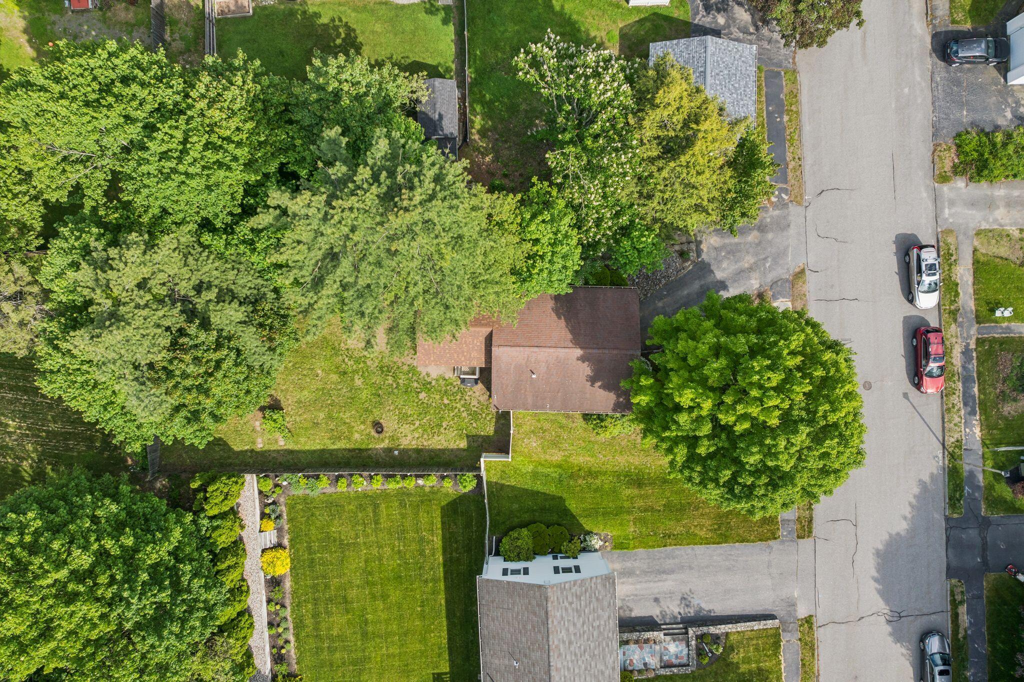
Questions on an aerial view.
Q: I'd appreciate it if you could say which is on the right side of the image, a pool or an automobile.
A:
automobile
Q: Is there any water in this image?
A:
No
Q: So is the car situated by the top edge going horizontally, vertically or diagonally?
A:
horizontally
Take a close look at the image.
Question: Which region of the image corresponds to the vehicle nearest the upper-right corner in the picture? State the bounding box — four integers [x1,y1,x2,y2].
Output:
[942,32,1009,68]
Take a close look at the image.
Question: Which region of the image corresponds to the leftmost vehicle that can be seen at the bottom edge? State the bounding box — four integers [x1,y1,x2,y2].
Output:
[919,630,956,682]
